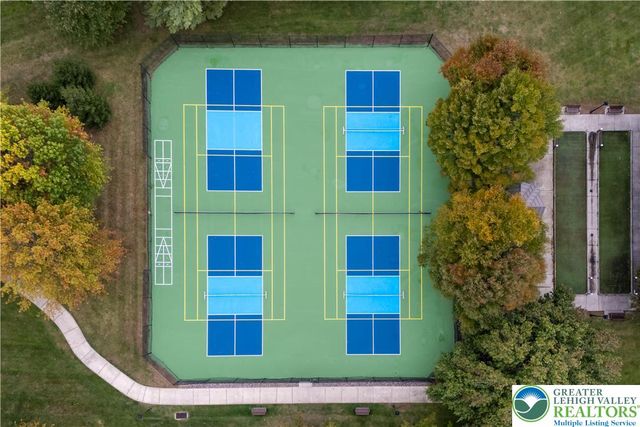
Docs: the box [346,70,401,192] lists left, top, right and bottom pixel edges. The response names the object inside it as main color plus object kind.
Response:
blue sports court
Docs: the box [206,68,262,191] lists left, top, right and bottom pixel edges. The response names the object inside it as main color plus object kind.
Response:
blue sports court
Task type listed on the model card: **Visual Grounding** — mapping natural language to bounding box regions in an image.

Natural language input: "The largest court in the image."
[148,43,458,383]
